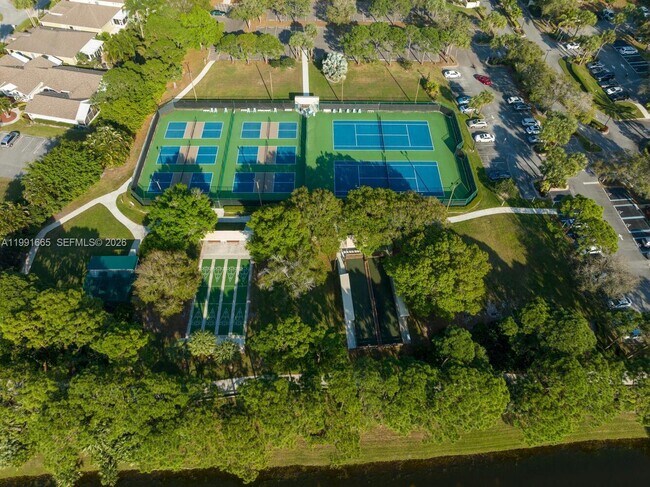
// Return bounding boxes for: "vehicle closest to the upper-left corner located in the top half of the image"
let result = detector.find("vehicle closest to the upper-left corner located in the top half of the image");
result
[3,131,20,146]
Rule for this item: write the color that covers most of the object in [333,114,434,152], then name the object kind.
blue tennis court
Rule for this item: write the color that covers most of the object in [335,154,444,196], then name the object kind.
blue tennis court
